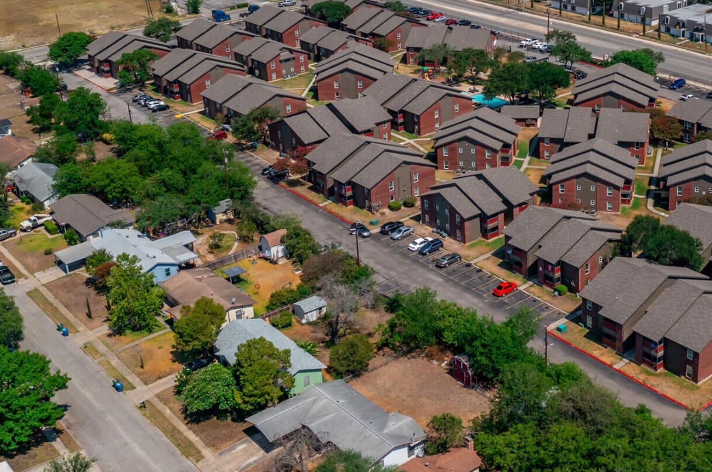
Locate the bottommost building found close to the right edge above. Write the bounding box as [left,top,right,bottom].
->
[580,257,712,383]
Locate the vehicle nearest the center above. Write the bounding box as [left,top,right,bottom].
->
[350,223,372,238]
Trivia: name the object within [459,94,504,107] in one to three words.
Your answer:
swimming pool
